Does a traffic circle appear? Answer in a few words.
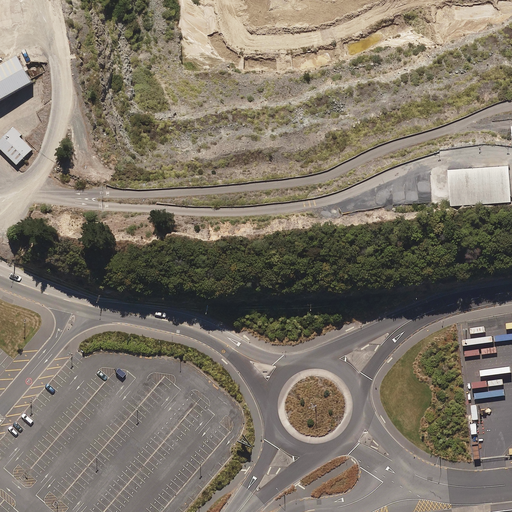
Yes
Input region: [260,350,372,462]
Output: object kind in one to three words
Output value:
roundabout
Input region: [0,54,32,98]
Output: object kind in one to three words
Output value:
shed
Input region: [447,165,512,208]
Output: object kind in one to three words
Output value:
building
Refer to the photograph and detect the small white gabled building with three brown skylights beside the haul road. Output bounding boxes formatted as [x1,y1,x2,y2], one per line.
[0,126,34,165]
